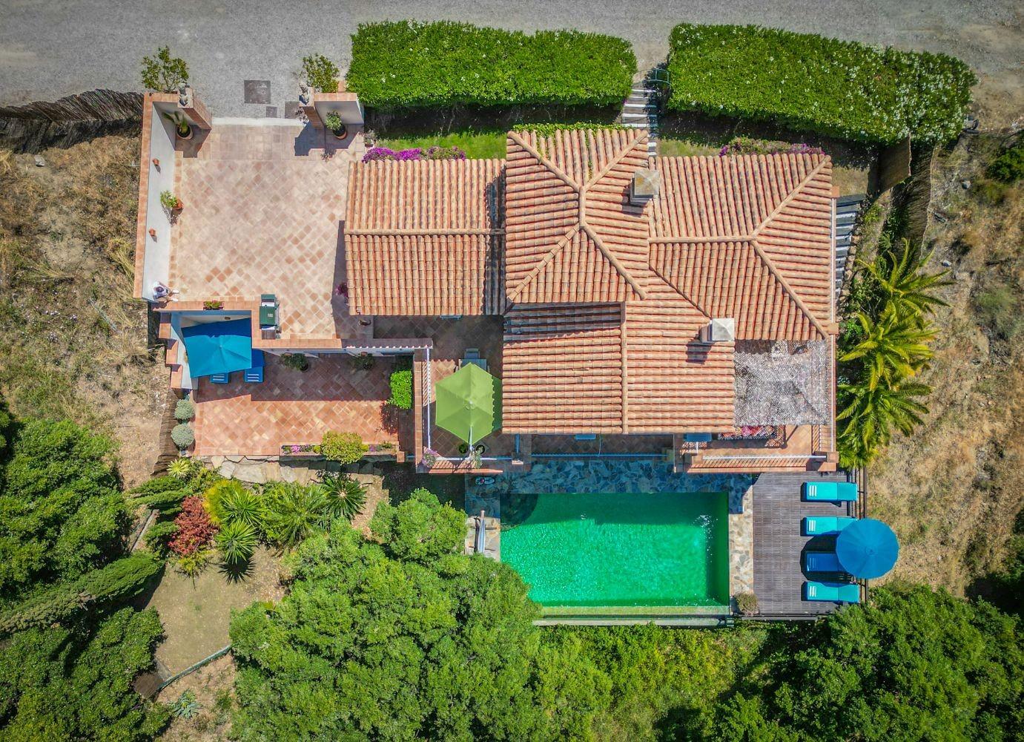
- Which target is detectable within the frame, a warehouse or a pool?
pool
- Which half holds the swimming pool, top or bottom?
bottom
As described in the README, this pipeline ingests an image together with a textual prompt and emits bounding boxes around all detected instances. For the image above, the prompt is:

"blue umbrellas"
[182,318,252,378]
[825,516,898,580]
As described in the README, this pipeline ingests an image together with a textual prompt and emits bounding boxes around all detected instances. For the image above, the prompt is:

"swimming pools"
[496,492,730,627]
